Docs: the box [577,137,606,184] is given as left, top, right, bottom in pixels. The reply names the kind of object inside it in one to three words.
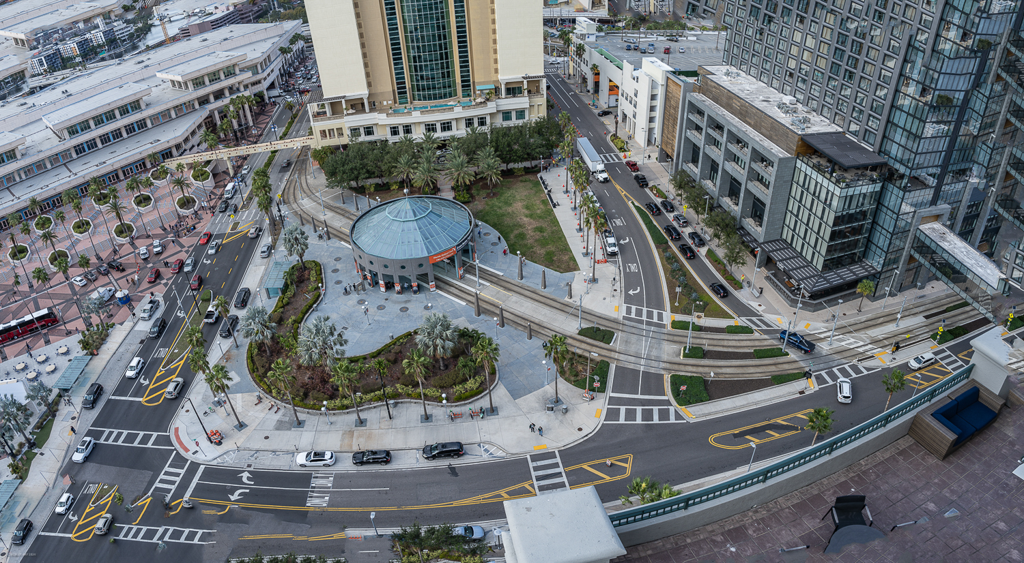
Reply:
truck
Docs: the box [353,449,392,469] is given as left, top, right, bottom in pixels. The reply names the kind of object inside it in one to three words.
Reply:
car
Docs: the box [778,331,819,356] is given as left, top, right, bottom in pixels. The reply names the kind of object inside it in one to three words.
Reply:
truck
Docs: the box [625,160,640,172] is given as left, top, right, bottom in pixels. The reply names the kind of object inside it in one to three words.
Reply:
vehicle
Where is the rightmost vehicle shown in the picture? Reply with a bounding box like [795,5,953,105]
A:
[904,352,939,373]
